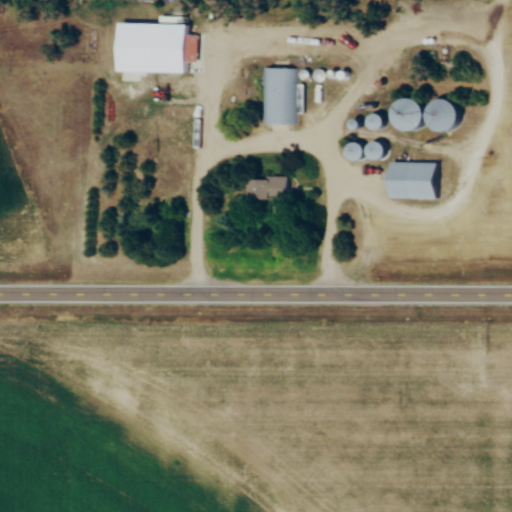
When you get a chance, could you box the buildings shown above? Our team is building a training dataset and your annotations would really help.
[385,162,440,200]
[245,177,290,202]
[113,22,190,74]
[264,68,301,124]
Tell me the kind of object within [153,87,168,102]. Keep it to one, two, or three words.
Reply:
work vehicle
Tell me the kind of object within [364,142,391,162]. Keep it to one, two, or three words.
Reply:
silo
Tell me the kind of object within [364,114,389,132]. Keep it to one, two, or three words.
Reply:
silo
